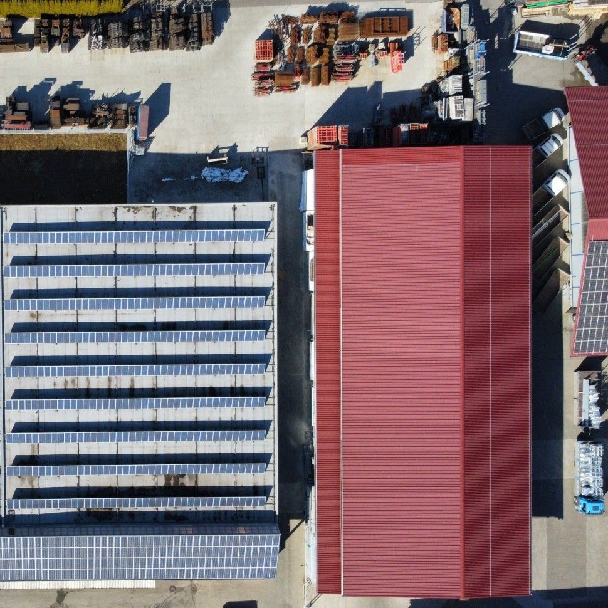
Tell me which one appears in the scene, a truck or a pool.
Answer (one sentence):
Looking from above, you can make out a truck.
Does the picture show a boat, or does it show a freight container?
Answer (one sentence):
Of the two, only a freight container appears.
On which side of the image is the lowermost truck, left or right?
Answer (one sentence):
The lowermost truck sits on the right side.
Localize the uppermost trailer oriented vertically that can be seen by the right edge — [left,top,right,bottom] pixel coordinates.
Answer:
[574,373,602,440]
